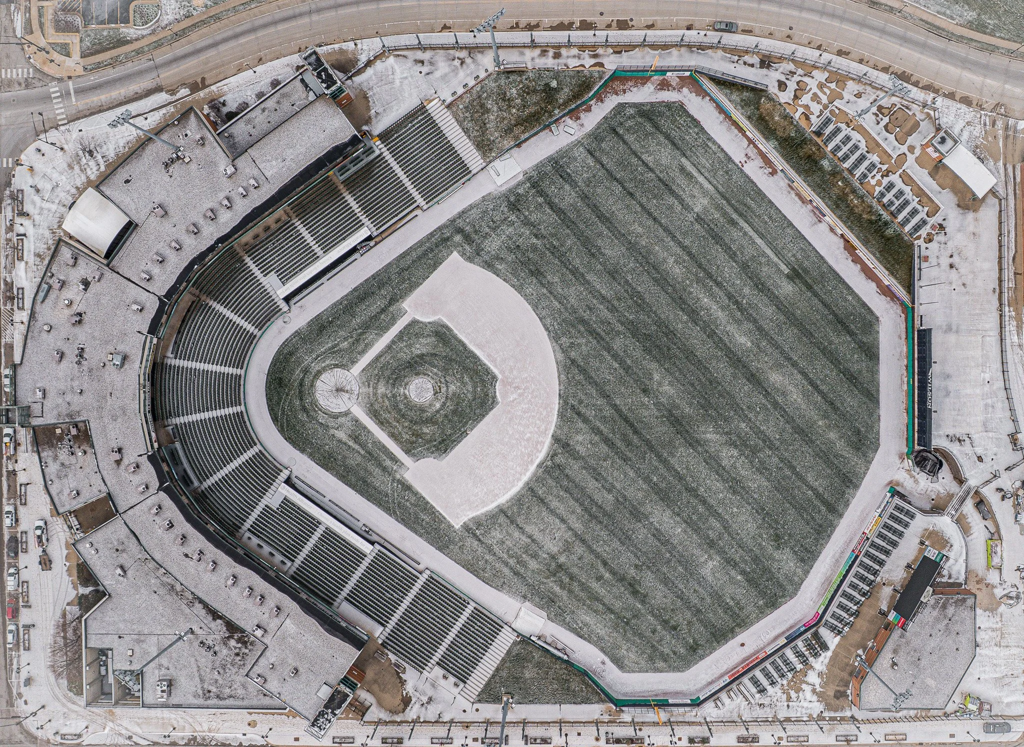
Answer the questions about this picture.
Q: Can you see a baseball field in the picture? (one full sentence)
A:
Yes, the picture does show a baseball field.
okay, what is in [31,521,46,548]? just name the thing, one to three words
vehicle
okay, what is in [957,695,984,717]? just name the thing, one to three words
work vehicle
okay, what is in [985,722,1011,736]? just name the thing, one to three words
car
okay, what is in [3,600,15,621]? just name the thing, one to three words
vehicle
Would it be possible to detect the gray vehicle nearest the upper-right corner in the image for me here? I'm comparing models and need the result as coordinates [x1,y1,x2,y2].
[714,18,738,32]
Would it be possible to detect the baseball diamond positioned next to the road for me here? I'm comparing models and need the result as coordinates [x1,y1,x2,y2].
[245,76,907,699]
